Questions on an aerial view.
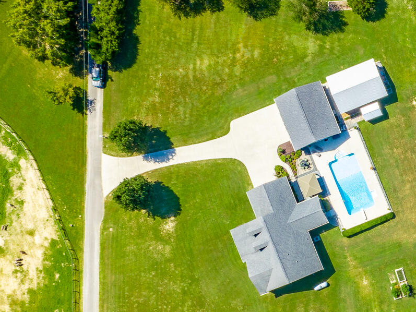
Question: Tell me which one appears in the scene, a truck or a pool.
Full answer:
There is a pool in the scene.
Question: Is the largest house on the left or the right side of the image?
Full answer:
It is on the right.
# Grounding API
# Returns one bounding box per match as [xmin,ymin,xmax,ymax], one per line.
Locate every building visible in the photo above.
[361,102,382,120]
[229,175,330,296]
[326,58,388,113]
[274,81,342,151]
